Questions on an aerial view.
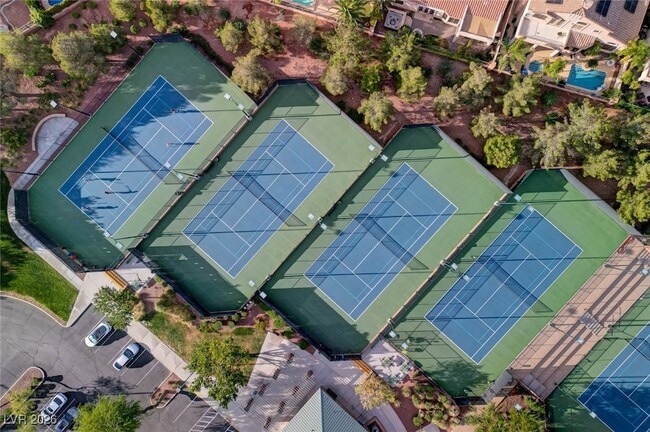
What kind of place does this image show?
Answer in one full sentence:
It's a sports ground.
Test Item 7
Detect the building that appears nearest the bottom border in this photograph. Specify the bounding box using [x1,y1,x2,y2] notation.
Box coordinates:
[280,386,374,432]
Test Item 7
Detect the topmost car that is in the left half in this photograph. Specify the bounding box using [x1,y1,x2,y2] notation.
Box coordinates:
[86,319,113,347]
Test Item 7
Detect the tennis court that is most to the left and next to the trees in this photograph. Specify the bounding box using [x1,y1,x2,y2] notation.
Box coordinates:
[28,42,257,270]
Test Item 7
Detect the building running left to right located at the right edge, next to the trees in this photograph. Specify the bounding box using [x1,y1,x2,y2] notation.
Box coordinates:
[506,0,650,68]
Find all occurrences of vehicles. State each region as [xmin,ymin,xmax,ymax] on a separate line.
[113,341,142,370]
[86,319,113,347]
[39,389,69,420]
[51,400,83,432]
